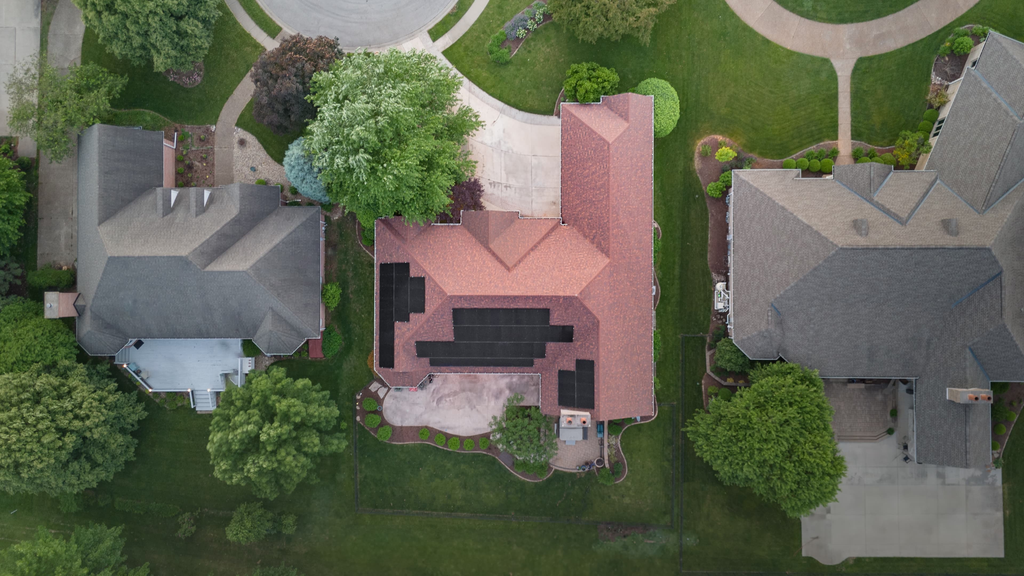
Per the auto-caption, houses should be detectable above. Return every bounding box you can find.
[727,30,1024,468]
[44,124,326,356]
[373,93,656,427]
